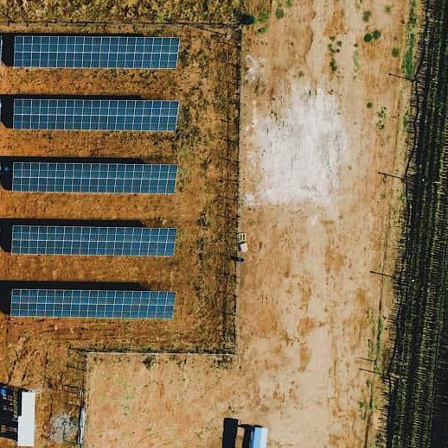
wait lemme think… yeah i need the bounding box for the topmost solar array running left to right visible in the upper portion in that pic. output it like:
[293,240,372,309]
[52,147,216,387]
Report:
[14,36,179,68]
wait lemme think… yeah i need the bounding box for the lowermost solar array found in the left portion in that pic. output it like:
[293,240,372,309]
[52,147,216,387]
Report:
[12,289,176,318]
